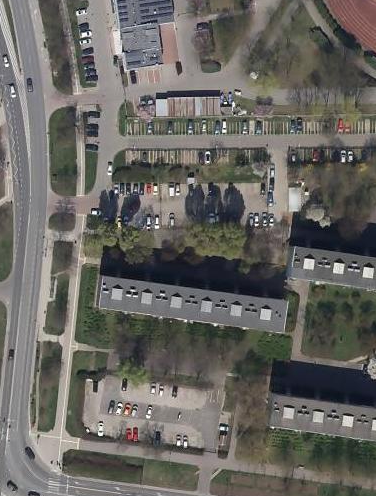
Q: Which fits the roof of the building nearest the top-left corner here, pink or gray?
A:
gray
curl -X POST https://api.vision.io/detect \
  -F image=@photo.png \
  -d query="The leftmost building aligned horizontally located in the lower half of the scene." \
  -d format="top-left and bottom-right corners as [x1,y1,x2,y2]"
[98,275,292,334]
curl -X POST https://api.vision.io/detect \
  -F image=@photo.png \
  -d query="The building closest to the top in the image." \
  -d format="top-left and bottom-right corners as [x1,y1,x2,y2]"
[112,0,175,71]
